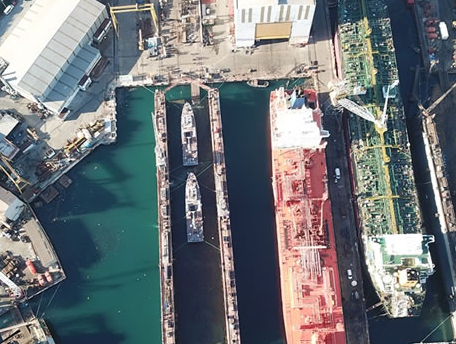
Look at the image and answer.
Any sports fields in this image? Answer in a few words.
No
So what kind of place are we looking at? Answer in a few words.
port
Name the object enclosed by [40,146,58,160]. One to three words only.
vehicle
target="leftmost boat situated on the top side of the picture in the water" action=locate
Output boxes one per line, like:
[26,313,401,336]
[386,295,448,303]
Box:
[180,102,198,169]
